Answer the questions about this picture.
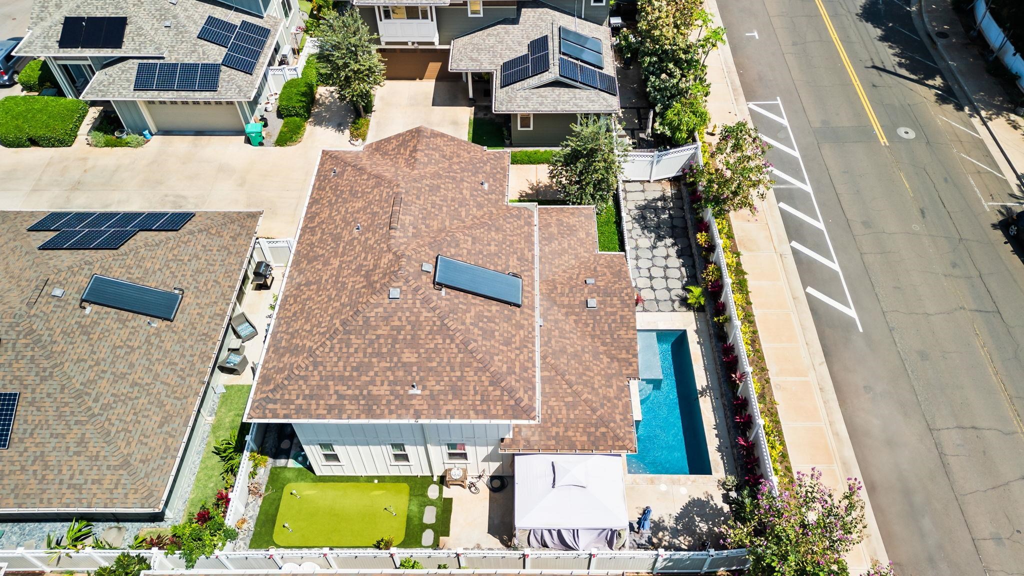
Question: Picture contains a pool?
Yes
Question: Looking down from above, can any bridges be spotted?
No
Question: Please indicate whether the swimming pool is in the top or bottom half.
bottom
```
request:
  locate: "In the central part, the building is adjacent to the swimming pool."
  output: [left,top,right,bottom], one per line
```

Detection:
[240,124,645,482]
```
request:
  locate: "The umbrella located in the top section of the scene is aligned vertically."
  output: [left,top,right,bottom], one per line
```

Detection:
[641,108,654,147]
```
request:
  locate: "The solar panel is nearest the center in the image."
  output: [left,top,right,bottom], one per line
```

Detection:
[436,251,524,305]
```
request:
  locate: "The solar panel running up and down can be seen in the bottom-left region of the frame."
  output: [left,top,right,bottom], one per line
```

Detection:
[0,392,22,446]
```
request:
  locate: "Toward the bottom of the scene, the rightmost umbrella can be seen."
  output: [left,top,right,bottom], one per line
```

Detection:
[633,510,655,544]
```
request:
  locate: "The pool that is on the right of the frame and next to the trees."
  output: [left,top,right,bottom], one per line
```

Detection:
[624,312,734,507]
